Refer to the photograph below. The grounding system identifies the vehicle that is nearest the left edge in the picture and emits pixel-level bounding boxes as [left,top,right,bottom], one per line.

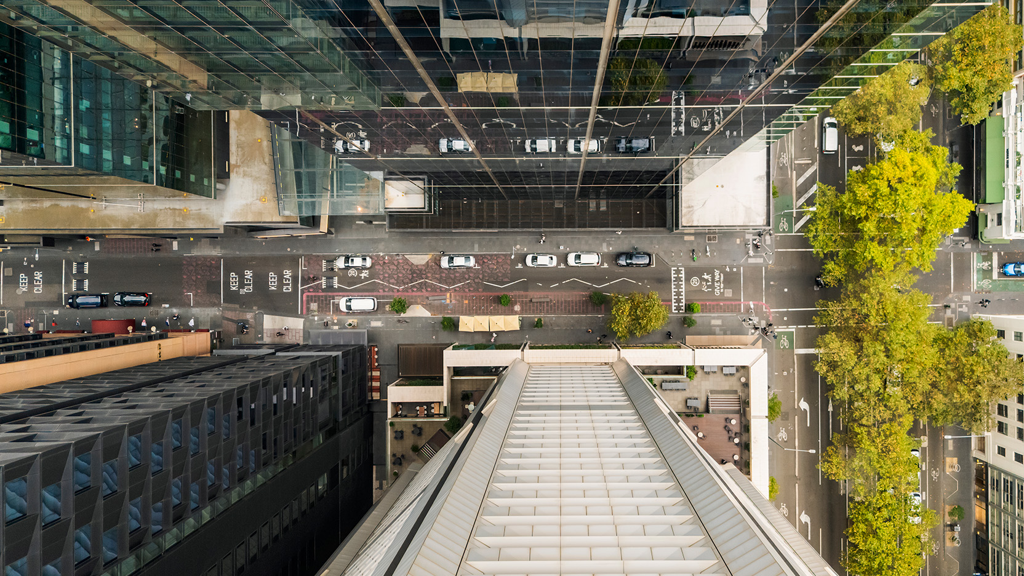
[69,293,109,310]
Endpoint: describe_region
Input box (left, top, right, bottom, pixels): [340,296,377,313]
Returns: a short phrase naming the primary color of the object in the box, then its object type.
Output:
white vehicle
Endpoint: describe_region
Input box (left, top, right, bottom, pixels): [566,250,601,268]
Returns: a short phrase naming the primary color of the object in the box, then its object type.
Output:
white car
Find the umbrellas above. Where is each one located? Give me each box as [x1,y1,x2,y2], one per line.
[504,315,519,330]
[489,316,504,331]
[474,316,489,331]
[459,316,474,331]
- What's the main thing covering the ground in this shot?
buildings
